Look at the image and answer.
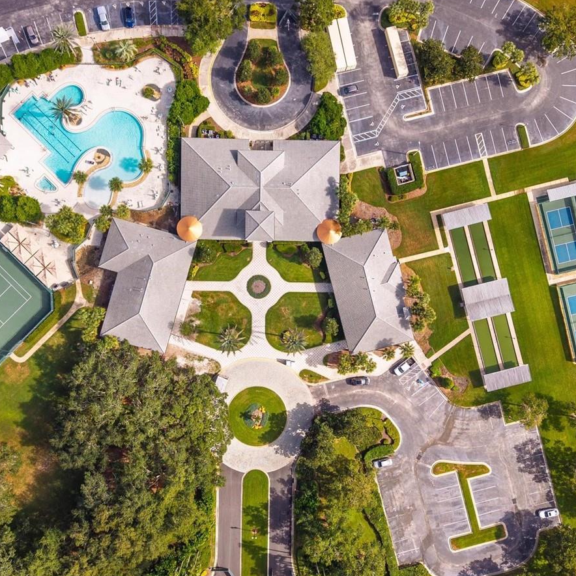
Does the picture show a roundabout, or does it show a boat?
roundabout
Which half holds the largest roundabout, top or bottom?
bottom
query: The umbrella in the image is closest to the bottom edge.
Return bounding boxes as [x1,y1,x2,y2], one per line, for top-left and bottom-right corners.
[25,248,64,287]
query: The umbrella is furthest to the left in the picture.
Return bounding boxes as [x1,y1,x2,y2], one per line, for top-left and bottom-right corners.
[0,224,39,264]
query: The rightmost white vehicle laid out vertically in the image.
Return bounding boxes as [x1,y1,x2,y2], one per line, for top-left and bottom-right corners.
[97,5,110,31]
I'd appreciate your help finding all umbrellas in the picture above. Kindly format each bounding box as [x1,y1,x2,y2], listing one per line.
[0,224,39,264]
[25,248,64,287]
[165,84,175,95]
